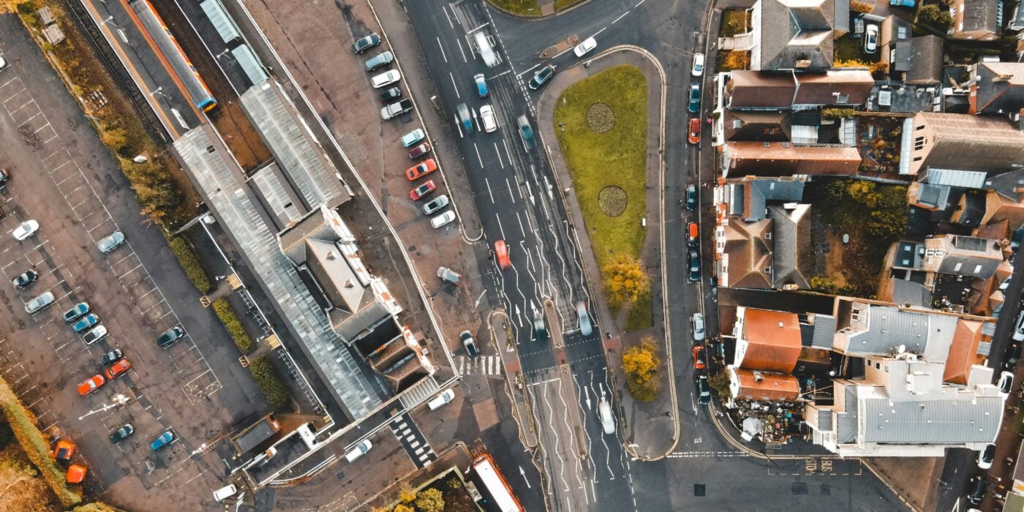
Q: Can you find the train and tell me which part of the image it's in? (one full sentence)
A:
Look in the top left portion of the view to spot the train.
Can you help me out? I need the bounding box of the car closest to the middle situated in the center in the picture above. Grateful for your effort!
[493,238,511,268]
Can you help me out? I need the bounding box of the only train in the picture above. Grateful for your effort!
[123,0,218,116]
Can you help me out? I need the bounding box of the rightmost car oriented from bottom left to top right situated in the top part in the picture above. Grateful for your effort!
[572,34,599,59]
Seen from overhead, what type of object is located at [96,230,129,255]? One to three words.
car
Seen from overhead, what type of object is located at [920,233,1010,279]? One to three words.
house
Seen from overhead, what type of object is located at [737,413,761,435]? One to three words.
gazebo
